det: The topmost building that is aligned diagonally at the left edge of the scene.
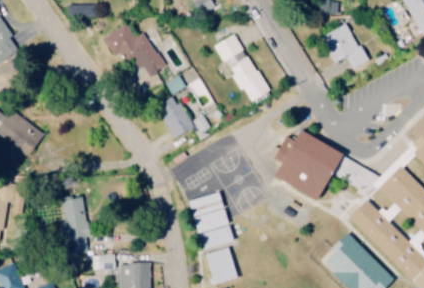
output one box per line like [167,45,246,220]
[0,108,48,158]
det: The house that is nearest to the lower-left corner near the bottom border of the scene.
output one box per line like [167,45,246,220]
[0,261,26,288]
